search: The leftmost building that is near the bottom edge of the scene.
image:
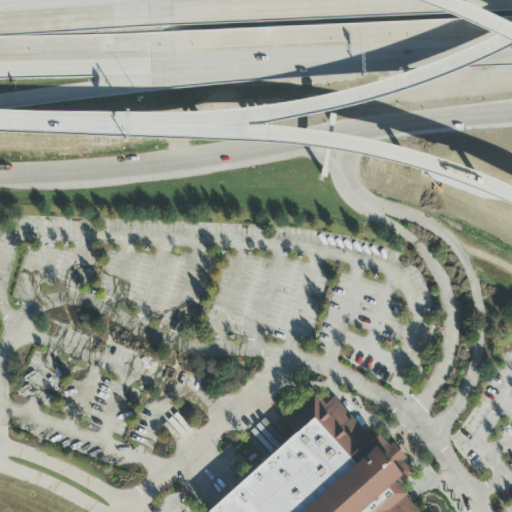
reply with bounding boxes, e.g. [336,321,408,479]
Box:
[207,392,424,512]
